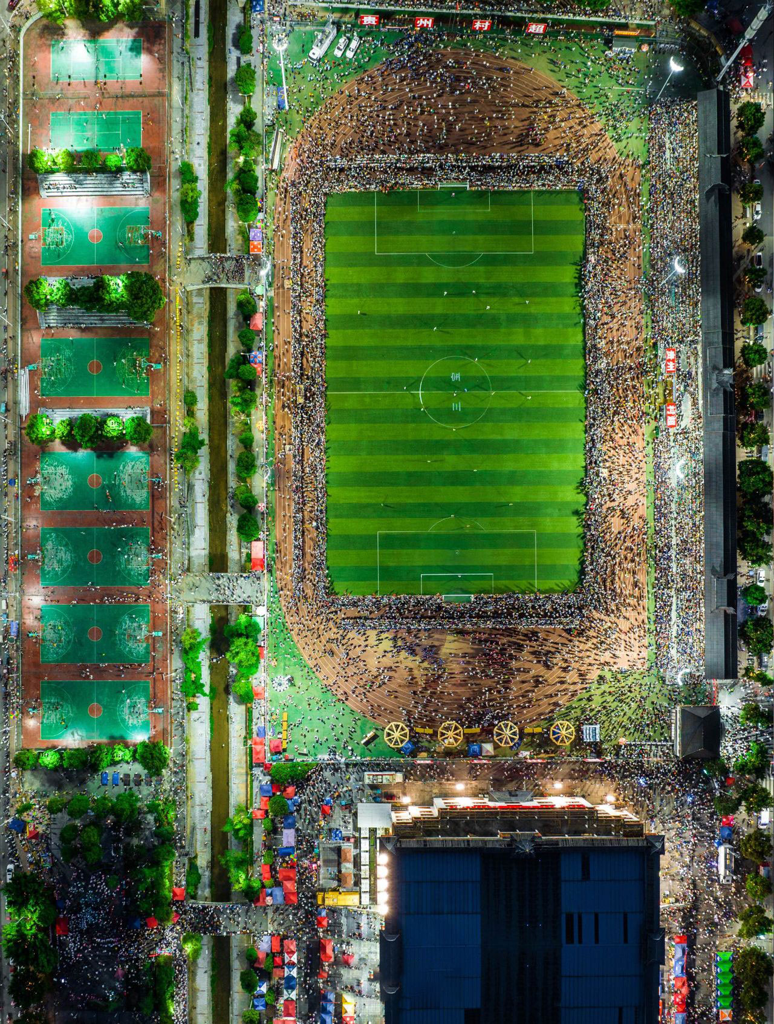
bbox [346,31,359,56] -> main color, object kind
white vehicle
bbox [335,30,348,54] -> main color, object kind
white vehicle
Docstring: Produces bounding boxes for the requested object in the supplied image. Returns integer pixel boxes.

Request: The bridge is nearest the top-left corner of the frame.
[184,254,245,290]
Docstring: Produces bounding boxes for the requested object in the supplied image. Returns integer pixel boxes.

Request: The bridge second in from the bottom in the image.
[184,572,245,604]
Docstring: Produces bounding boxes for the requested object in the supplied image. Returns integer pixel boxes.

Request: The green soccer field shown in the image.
[325,190,587,595]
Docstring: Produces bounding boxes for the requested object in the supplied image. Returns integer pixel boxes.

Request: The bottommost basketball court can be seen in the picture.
[40,680,150,739]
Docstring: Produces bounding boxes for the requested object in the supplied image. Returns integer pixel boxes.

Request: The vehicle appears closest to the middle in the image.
[360,733,379,751]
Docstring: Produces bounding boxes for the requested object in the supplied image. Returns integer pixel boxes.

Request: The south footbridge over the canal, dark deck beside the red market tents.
[184,902,245,937]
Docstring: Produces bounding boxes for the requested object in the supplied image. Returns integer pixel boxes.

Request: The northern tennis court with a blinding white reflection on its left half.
[50,33,142,83]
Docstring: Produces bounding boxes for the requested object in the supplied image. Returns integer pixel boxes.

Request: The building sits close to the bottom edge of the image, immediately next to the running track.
[379,798,665,1024]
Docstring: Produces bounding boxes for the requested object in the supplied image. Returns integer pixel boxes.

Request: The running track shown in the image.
[275,50,647,728]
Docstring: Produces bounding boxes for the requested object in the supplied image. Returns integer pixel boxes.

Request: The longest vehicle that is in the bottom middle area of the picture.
[317,892,359,909]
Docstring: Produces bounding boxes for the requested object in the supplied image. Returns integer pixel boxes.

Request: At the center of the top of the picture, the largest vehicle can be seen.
[308,9,339,65]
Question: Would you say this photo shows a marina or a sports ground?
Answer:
sports ground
